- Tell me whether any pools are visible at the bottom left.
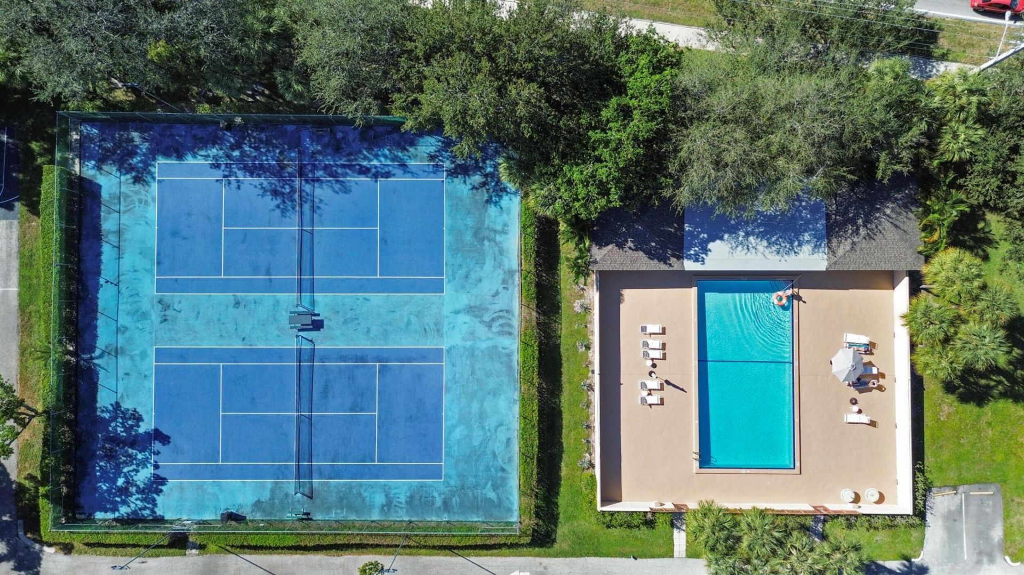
No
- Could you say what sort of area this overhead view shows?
sports ground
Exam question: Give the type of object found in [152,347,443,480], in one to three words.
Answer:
tennis court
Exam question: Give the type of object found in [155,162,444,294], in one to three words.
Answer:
tennis court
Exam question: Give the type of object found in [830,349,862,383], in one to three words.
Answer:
umbrella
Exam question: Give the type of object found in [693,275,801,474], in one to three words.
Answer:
swimming pool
